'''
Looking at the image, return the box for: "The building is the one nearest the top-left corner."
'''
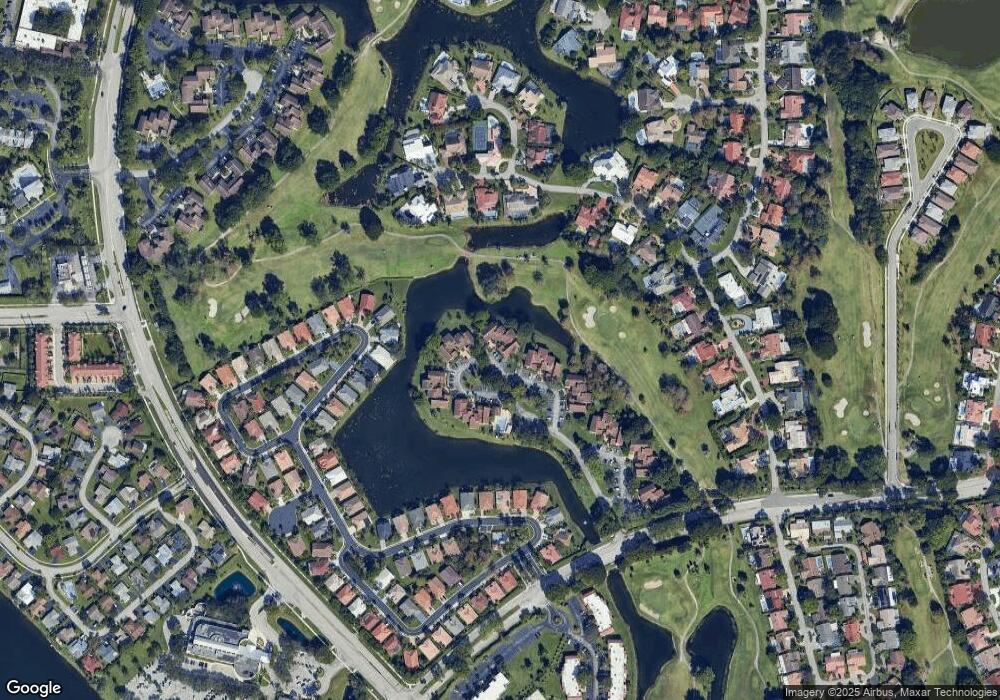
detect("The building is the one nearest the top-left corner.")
[15,0,89,57]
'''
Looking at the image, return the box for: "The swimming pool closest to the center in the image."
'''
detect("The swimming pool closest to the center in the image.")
[495,409,510,433]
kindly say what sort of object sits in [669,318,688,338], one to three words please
swimming pool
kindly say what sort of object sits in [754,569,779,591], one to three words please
house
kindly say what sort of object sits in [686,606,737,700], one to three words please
pond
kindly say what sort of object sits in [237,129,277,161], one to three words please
building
